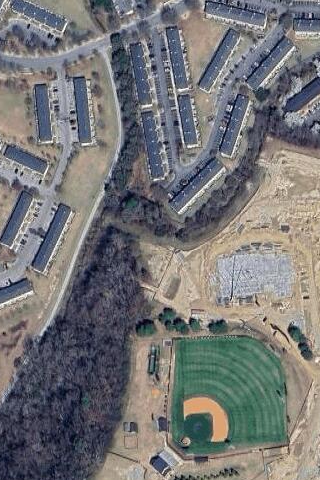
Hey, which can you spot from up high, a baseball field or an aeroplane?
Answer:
baseball field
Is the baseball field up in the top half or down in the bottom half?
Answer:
bottom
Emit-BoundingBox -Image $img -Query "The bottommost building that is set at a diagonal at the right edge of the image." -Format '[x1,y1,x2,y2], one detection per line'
[285,77,320,115]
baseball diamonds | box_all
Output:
[169,334,291,460]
